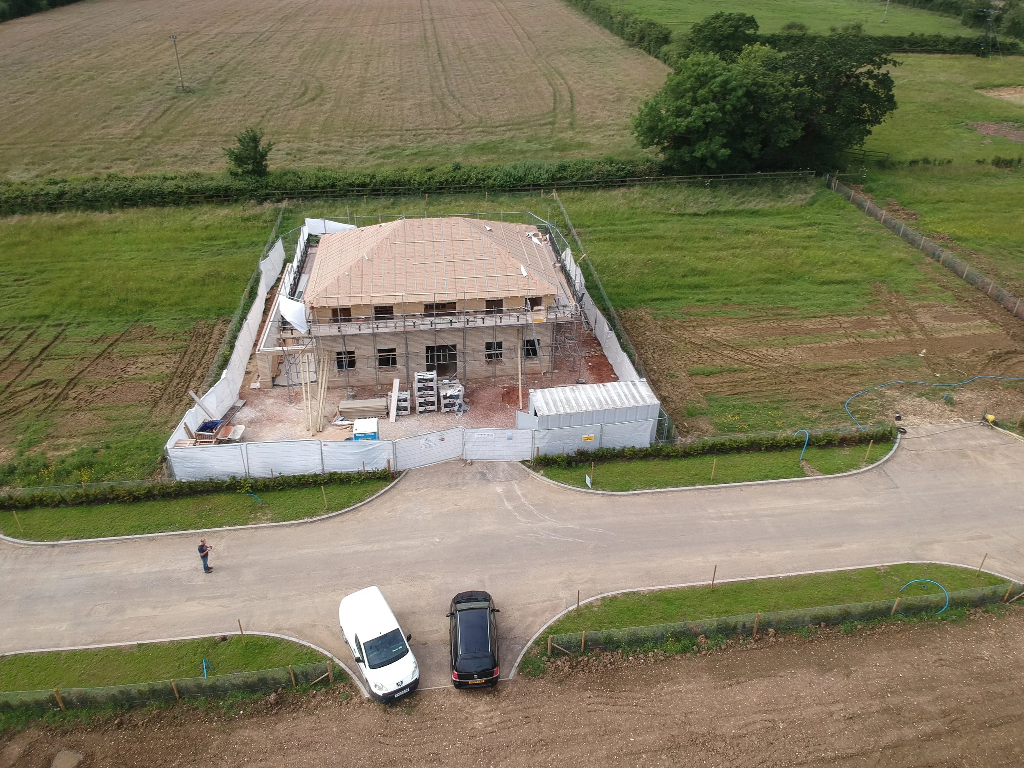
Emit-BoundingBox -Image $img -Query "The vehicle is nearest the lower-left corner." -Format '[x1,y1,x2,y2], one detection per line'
[340,588,421,704]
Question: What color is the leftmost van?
white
